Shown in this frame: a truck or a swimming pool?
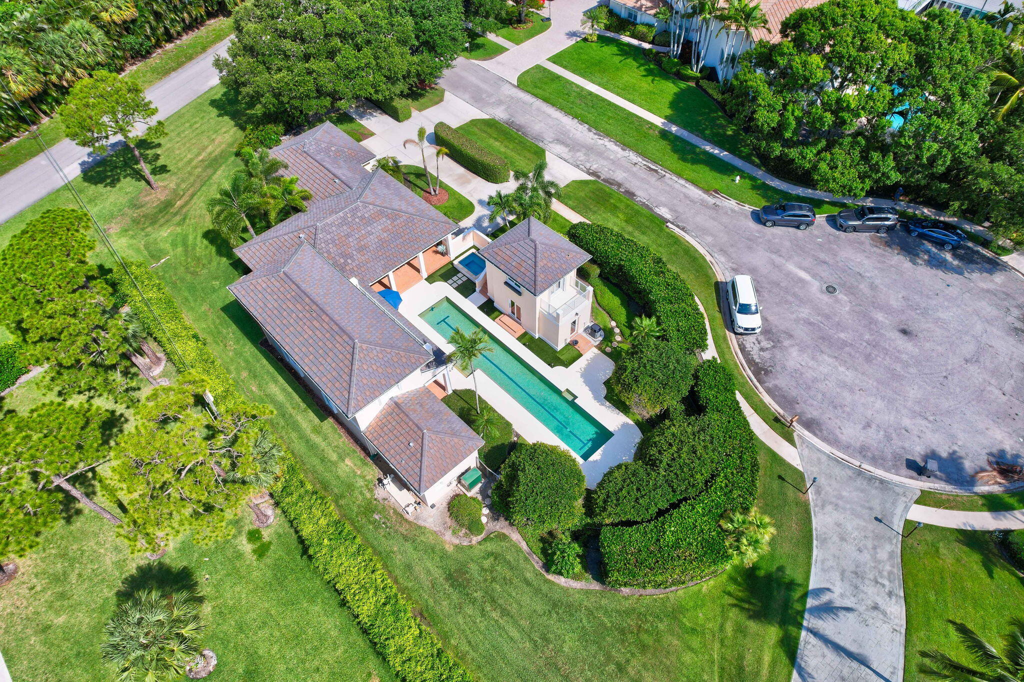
swimming pool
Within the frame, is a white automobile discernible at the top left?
No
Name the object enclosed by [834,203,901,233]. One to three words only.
car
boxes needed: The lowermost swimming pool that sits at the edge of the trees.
[420,297,613,460]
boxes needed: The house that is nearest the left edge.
[226,120,486,508]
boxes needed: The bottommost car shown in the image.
[726,278,763,338]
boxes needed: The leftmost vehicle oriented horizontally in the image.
[758,200,818,229]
